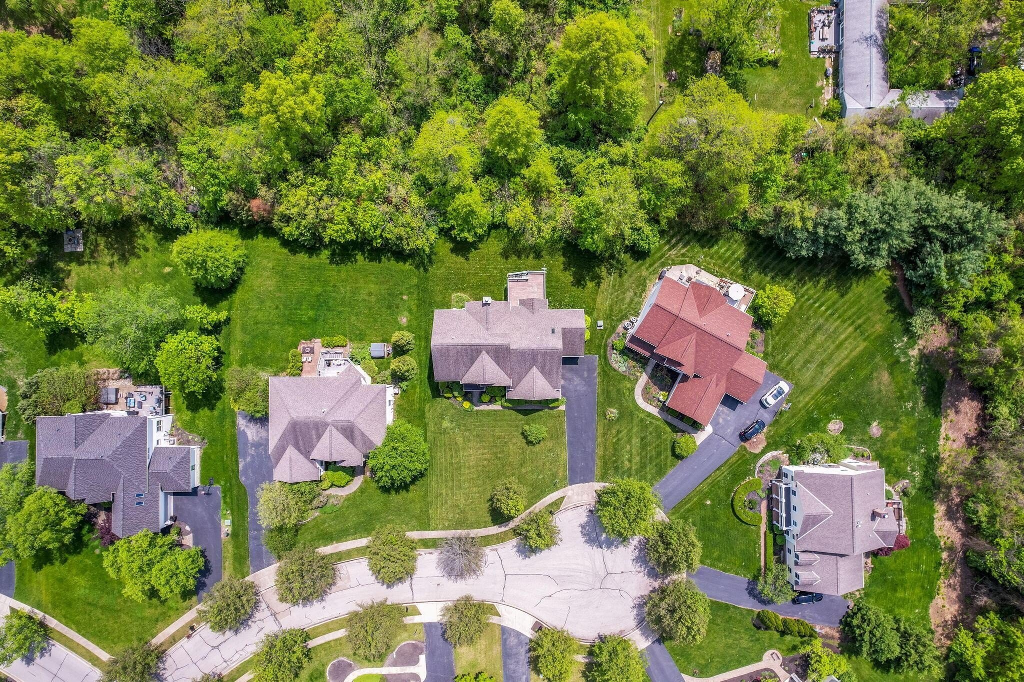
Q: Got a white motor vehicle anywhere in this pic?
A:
Yes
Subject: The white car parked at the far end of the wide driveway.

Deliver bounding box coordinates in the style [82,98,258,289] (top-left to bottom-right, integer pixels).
[759,379,791,411]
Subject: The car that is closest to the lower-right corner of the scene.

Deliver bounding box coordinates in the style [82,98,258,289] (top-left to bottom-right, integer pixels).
[790,591,823,607]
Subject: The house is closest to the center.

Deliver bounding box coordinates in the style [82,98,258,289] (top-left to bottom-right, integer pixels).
[431,297,586,401]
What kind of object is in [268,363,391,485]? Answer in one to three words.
house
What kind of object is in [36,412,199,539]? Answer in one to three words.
house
